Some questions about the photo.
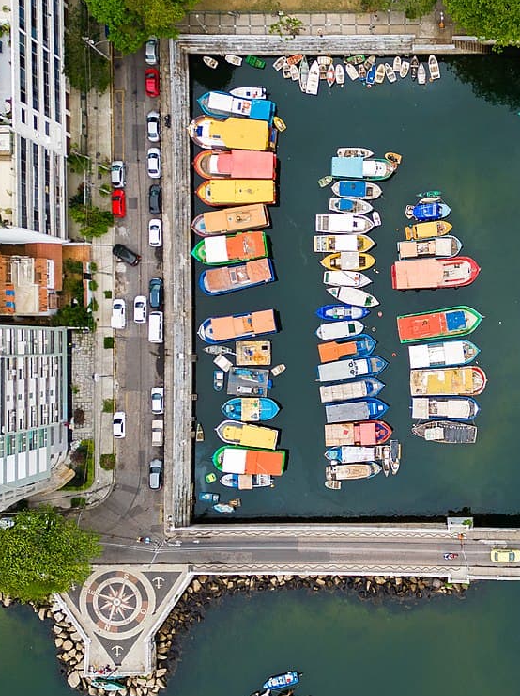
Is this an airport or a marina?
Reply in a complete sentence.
What you see here is a marina.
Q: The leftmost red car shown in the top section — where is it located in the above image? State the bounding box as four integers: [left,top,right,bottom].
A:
[110,189,127,218]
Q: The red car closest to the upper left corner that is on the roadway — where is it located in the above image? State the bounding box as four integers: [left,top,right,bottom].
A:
[143,69,160,98]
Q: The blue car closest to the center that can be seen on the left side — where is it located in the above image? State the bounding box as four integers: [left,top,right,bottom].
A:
[149,277,164,309]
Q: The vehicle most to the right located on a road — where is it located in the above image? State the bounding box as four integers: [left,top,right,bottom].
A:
[491,549,520,564]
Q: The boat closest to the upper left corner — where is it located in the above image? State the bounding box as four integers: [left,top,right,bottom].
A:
[203,58,220,71]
